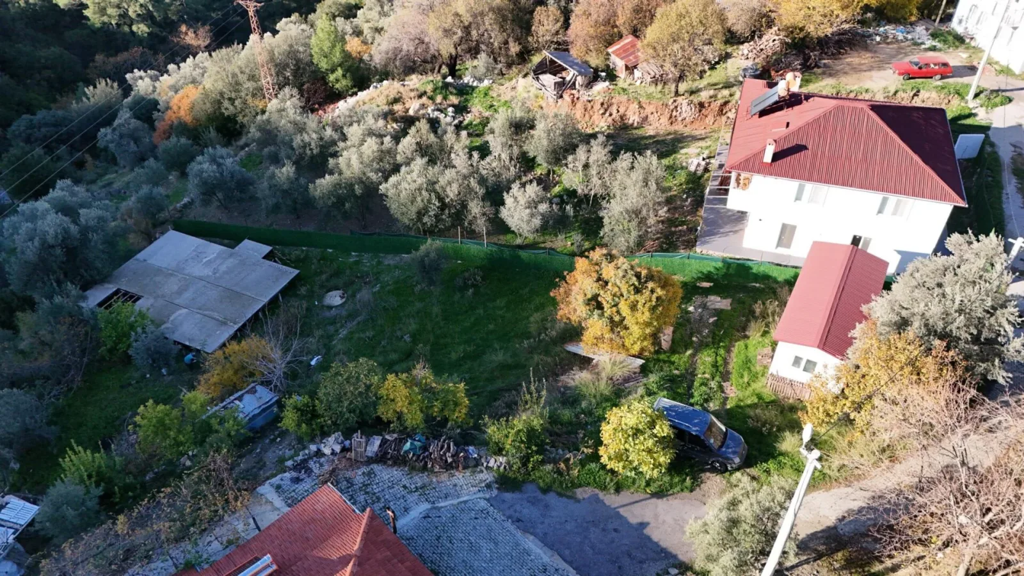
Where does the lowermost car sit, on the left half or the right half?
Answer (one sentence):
The lowermost car sits on the right side.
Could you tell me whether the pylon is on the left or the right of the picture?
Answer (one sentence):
The pylon sits on the left side.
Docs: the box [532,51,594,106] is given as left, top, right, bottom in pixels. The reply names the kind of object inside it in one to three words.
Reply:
shed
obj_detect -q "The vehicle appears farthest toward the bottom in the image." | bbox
[886,53,957,79]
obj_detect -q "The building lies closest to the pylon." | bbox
[86,229,301,353]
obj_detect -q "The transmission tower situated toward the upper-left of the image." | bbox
[226,0,286,129]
